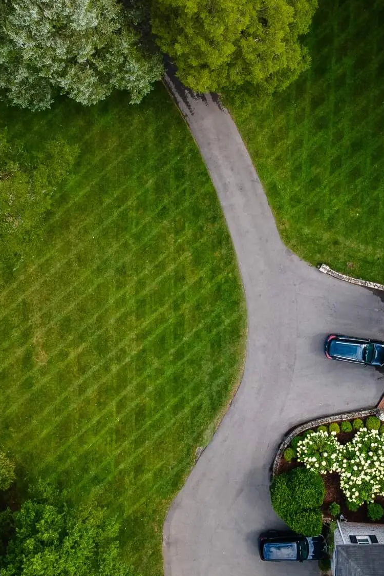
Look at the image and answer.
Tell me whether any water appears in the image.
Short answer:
No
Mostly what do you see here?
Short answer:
grass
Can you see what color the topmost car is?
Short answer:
blue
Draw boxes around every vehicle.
[259,531,324,565]
[324,334,384,365]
